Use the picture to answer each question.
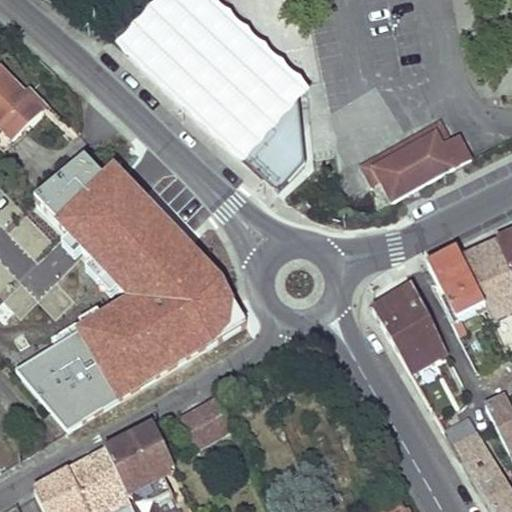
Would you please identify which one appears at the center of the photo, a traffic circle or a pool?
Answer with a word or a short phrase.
traffic circle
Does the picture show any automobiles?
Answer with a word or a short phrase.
Yes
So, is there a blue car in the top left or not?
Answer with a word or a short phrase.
No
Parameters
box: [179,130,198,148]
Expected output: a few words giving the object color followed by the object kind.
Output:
white car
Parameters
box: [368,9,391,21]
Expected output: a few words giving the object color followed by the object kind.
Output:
white vehicle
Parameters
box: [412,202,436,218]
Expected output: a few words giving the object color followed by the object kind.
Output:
white car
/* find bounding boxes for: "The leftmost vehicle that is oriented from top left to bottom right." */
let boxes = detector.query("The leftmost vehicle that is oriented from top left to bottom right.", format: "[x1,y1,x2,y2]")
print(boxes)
[100,53,119,72]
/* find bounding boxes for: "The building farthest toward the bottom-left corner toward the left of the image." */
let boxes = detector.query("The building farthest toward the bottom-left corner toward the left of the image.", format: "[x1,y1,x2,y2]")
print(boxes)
[34,464,94,512]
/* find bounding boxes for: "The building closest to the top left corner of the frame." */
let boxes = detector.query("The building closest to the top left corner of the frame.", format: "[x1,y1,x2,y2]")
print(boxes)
[0,62,47,150]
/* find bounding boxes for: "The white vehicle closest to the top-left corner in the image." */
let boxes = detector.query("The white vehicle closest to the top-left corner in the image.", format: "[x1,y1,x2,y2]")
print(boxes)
[122,72,140,90]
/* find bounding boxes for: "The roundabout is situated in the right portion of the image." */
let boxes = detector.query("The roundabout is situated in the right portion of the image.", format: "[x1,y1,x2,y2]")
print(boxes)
[217,190,404,352]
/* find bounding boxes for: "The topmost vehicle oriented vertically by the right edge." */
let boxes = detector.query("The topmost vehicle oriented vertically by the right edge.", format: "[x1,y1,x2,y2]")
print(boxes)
[474,408,487,430]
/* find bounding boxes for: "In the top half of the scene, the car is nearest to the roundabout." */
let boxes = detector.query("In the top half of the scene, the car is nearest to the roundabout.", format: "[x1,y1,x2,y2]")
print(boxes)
[222,168,241,186]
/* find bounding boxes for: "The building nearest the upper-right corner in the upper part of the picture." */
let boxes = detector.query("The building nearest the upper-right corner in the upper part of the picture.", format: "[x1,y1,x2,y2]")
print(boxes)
[361,121,471,206]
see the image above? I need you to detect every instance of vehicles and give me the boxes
[412,202,436,218]
[222,168,241,186]
[392,3,414,16]
[368,9,391,21]
[467,504,478,512]
[181,200,200,219]
[139,90,159,109]
[457,483,472,504]
[179,130,198,148]
[474,408,487,430]
[400,55,422,65]
[122,72,140,90]
[100,53,119,72]
[372,25,394,36]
